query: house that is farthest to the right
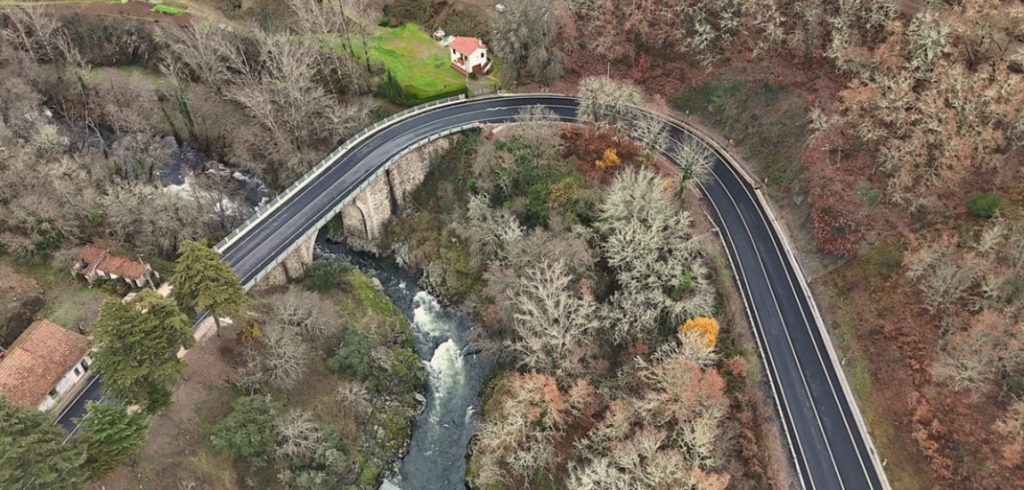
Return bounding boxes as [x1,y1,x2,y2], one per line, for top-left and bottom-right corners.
[444,36,493,77]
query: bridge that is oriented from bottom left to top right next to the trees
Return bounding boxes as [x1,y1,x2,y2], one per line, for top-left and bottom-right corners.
[152,89,466,312]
